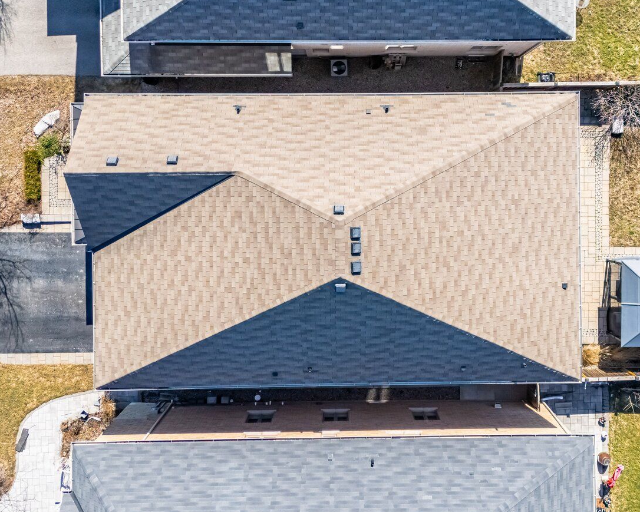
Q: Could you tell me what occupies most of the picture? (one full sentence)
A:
The bulk of the photo consists of buildings.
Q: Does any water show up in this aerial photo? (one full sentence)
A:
No, there's no water in this view.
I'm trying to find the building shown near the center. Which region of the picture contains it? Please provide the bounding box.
[62,88,585,394]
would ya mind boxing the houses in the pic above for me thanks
[97,0,580,77]
[62,88,585,394]
[57,390,599,512]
